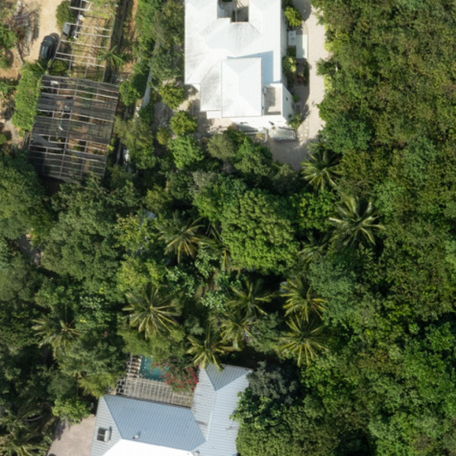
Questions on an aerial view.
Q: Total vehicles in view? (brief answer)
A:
one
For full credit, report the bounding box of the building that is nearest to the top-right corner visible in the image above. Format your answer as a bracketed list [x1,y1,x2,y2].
[185,0,302,143]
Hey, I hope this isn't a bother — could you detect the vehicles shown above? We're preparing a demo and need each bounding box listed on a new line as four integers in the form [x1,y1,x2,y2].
[39,33,61,66]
